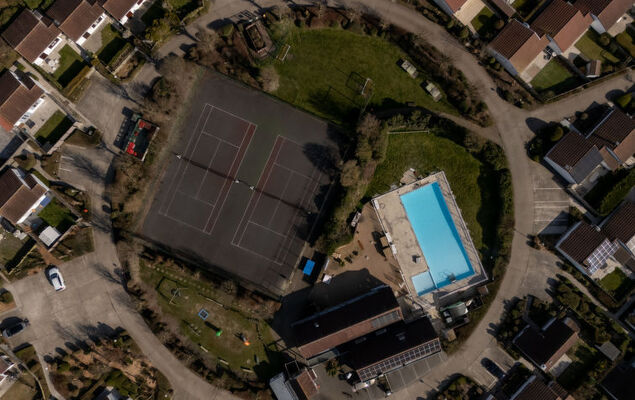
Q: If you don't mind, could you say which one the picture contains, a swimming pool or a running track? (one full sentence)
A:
The image shows a swimming pool.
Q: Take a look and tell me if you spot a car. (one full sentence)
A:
Yes, I can see a car in this picture.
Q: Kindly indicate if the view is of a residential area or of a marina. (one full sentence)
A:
This looks like a residential area.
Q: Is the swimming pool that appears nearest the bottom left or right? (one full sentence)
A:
The swimming pool that appears nearest the bottom sits on the right side.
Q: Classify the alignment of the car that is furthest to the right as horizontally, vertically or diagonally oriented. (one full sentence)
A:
Seen from above, the car that is furthest to the right lies diagonally.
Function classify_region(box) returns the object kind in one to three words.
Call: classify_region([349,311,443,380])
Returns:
building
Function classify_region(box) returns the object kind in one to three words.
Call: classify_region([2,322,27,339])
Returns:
car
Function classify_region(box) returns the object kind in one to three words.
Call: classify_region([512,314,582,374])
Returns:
house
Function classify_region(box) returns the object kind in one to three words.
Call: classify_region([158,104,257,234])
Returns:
tennis court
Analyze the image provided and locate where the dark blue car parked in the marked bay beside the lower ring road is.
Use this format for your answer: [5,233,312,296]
[484,360,507,381]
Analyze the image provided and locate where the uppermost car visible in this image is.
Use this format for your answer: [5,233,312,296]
[50,267,65,291]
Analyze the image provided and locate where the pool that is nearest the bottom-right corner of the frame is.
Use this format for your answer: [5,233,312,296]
[372,172,487,307]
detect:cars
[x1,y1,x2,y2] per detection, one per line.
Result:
[484,360,507,381]
[50,267,65,291]
[2,322,27,339]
